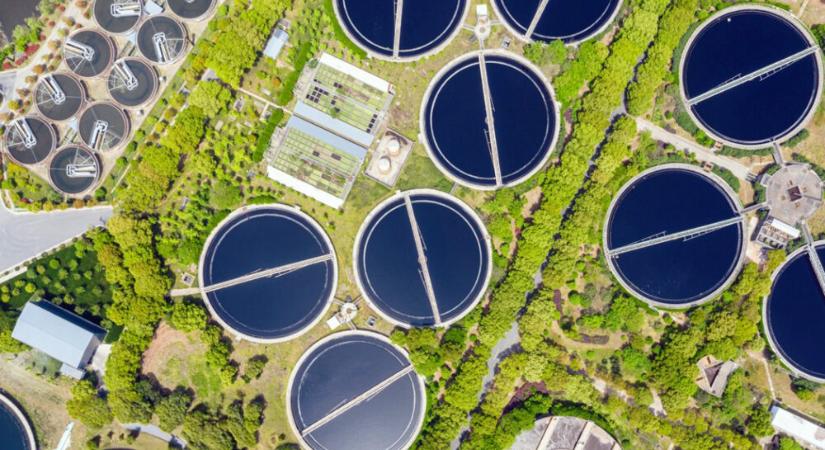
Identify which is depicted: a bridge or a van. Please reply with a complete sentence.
This aerial view contains a bridge.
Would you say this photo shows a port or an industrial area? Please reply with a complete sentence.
This image shows an industrial area.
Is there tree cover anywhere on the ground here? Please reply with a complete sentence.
Yes, tree cover can be seen from above here.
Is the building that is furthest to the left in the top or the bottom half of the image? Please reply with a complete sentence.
You can find the building that is furthest to the left in the bottom half.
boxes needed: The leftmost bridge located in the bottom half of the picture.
[198,254,336,293]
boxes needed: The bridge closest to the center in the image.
[403,190,442,327]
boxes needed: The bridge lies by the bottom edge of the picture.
[295,361,417,440]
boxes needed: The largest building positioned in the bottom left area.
[12,299,105,379]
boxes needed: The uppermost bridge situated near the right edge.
[685,45,822,107]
